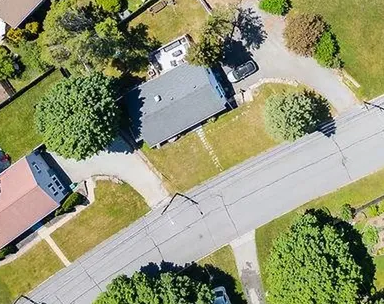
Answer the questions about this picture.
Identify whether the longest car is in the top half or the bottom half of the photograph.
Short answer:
top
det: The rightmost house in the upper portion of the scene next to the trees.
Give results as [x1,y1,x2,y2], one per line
[127,38,230,146]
